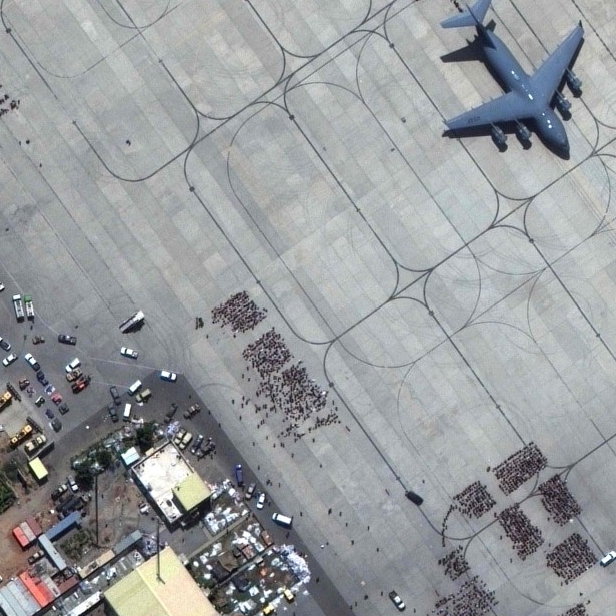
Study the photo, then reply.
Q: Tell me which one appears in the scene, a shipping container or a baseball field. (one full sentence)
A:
This aerial view contains a shipping container.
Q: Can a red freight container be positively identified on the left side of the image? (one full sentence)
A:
Yes, there is a red freight container on the left side of the image.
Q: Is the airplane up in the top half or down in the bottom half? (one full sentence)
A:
Seen from above, the airplane lies in the top half of the view.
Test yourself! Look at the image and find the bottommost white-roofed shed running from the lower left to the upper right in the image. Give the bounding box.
[63,591,103,616]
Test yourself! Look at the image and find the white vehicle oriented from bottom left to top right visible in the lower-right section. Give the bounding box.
[600,552,616,565]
